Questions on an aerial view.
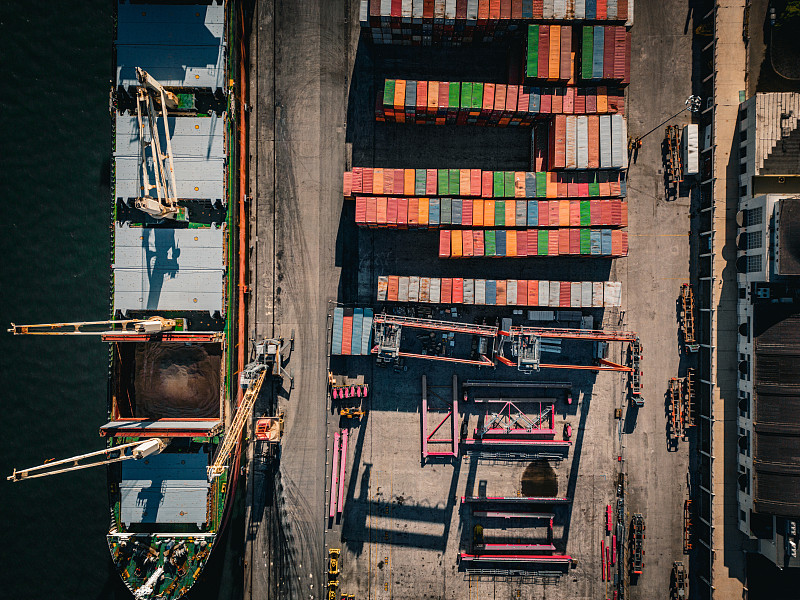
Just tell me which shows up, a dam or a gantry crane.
gantry crane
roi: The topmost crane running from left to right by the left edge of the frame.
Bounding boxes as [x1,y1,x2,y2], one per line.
[6,314,198,338]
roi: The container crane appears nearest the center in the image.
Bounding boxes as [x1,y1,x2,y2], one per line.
[370,309,501,367]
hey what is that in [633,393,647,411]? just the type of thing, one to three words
vehicle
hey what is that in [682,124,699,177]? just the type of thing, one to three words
trailer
